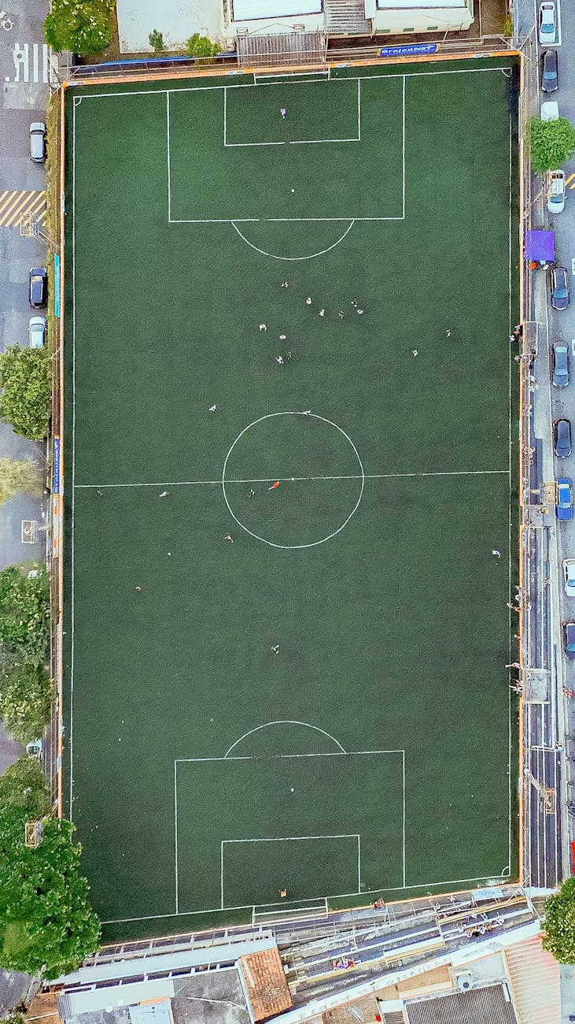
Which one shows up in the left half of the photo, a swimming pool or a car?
car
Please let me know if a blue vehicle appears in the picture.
Yes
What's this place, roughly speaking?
sports ground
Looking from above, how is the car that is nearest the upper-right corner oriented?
up and down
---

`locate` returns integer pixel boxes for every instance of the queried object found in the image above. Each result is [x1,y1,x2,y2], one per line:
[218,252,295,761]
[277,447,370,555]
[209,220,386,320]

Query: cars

[562,620,575,660]
[538,2,558,46]
[27,317,47,358]
[550,342,571,388]
[540,101,561,130]
[568,838,575,875]
[549,267,571,311]
[539,50,560,94]
[554,478,575,521]
[545,171,567,215]
[561,558,575,597]
[28,124,47,166]
[27,268,47,310]
[552,419,573,459]
[24,733,44,769]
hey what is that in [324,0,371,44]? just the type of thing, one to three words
shed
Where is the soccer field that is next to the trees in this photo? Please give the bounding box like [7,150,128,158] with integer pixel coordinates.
[60,57,521,948]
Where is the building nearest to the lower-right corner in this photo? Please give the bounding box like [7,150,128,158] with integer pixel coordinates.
[503,931,561,1024]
